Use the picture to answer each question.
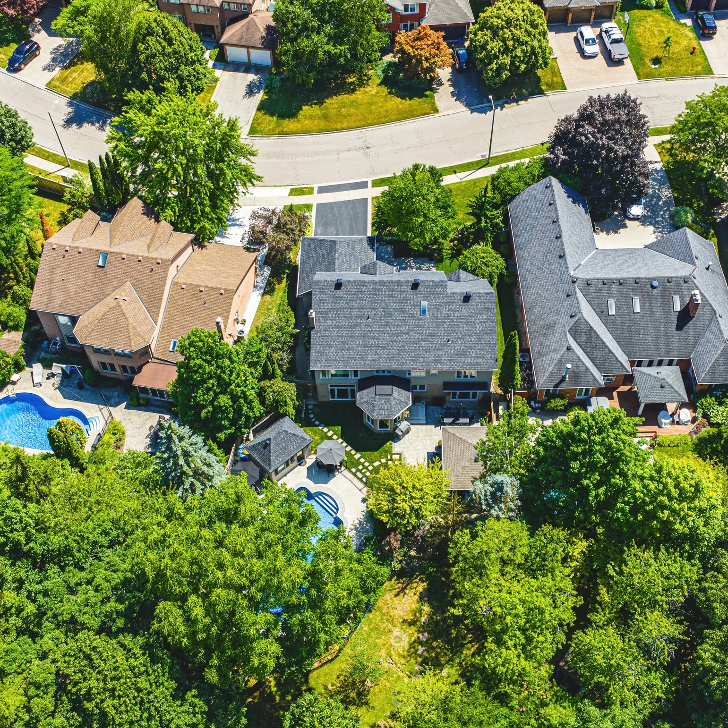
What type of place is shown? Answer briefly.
residential area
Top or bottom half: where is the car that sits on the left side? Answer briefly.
top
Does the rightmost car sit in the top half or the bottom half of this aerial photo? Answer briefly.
top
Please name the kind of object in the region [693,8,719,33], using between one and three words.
car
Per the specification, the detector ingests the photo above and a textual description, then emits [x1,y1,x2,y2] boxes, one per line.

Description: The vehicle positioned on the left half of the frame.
[1,36,44,68]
